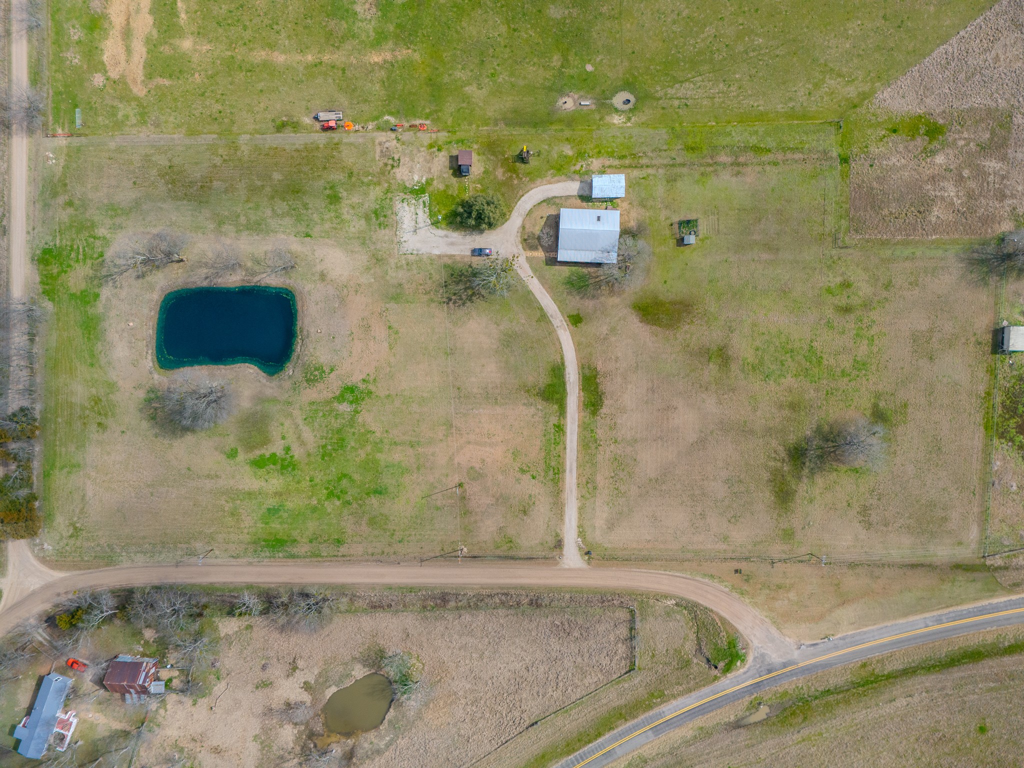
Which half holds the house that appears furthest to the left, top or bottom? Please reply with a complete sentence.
You can find the house that appears furthest to the left in the bottom half.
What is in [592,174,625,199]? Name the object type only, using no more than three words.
building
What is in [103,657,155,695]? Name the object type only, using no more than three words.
barn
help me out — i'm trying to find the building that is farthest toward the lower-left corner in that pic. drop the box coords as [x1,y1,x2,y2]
[13,672,72,759]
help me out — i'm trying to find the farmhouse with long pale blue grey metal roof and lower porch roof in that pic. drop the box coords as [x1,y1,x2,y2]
[557,207,620,263]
